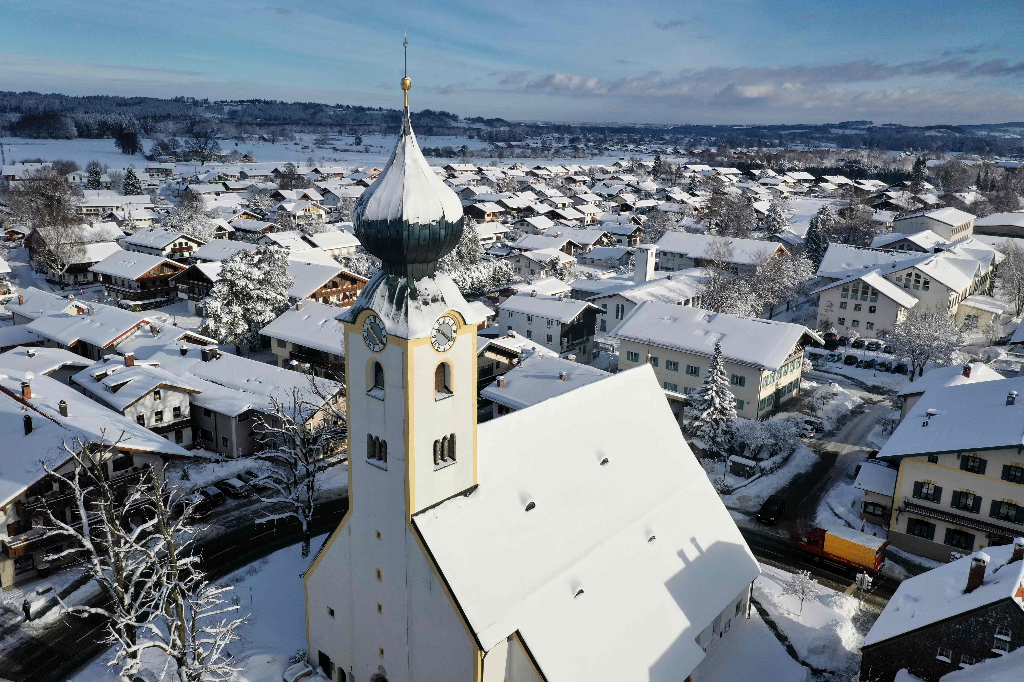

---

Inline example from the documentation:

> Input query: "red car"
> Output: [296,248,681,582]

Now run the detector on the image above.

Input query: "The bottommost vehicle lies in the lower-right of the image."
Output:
[796,522,898,572]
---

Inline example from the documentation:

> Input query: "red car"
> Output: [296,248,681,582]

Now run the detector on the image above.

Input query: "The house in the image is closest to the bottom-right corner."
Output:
[859,525,1024,682]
